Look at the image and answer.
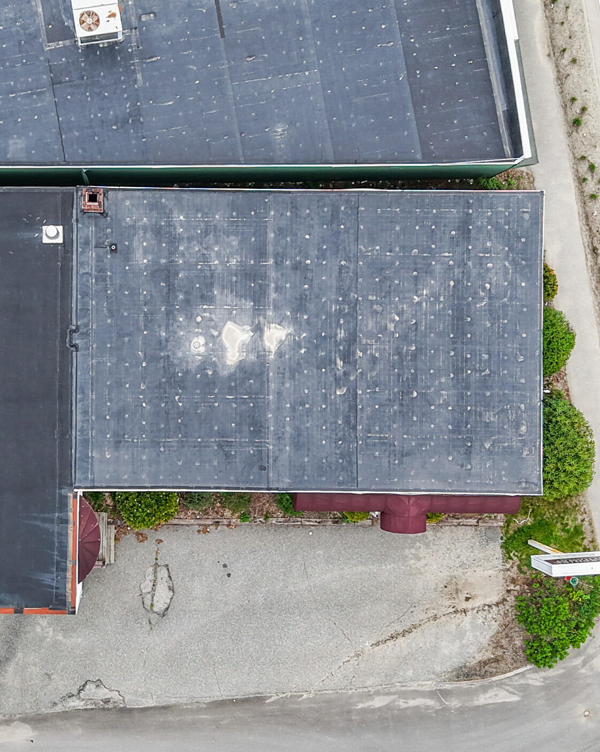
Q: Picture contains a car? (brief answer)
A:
No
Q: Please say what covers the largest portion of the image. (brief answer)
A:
buildings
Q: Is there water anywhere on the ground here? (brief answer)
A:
No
